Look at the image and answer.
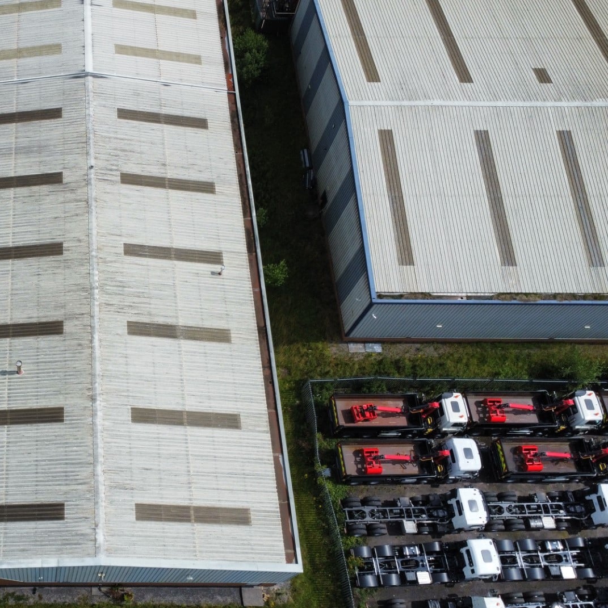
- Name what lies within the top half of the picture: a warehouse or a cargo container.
warehouse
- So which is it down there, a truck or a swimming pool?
truck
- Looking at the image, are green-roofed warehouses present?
No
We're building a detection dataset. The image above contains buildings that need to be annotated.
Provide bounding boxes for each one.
[292,0,608,340]
[0,0,302,588]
